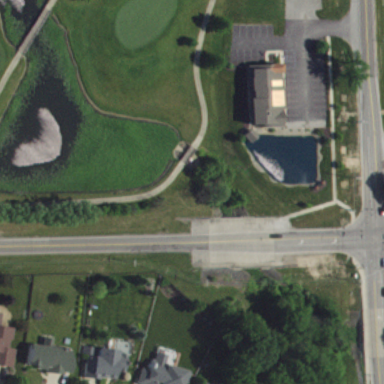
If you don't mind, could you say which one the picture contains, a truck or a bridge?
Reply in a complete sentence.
The image shows a bridge.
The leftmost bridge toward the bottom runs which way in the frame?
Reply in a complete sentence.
The leftmost bridge toward the bottom runs horizontally in the image.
